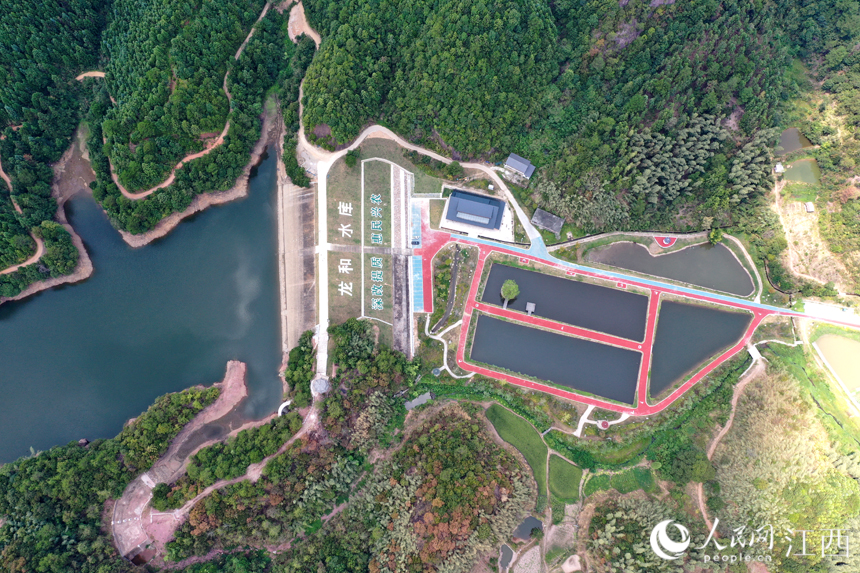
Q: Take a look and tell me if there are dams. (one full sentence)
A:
Yes, a dam is visible in the scene.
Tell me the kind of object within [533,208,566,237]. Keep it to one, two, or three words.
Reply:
building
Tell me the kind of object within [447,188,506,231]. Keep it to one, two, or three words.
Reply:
building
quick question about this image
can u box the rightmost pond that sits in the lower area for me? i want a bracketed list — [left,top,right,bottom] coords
[810,334,860,413]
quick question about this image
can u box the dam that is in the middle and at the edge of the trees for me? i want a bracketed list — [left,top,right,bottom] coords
[278,150,414,385]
